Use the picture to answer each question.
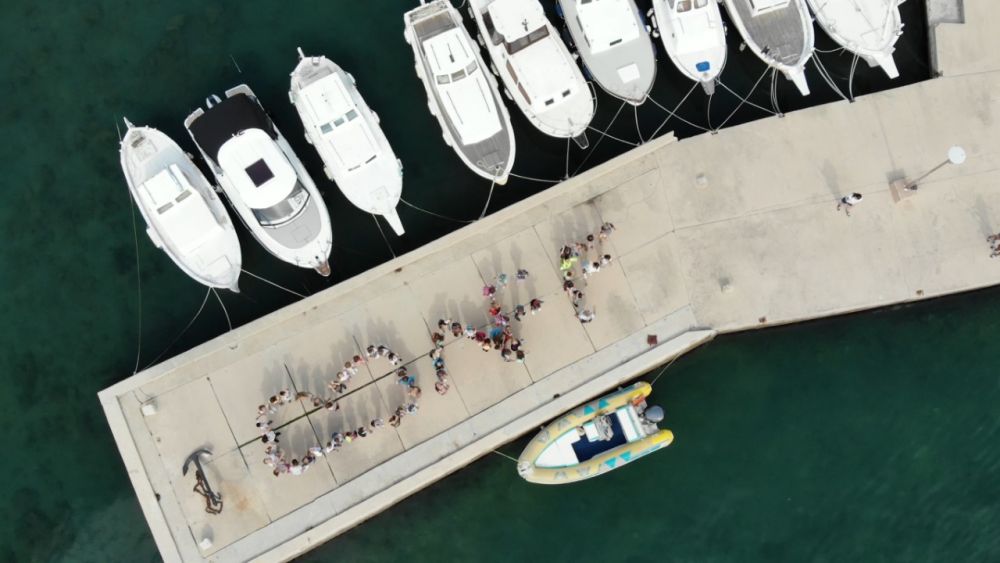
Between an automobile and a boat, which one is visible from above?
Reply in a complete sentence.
Visible in the photo is a boat.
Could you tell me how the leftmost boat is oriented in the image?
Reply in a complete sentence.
I'd say the leftmost boat is aligned at an angle in the picture.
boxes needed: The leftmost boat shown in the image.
[119,119,240,296]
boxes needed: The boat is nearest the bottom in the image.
[519,386,670,484]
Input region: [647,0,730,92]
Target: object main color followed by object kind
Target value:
white boat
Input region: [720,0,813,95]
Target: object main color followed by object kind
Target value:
white boat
